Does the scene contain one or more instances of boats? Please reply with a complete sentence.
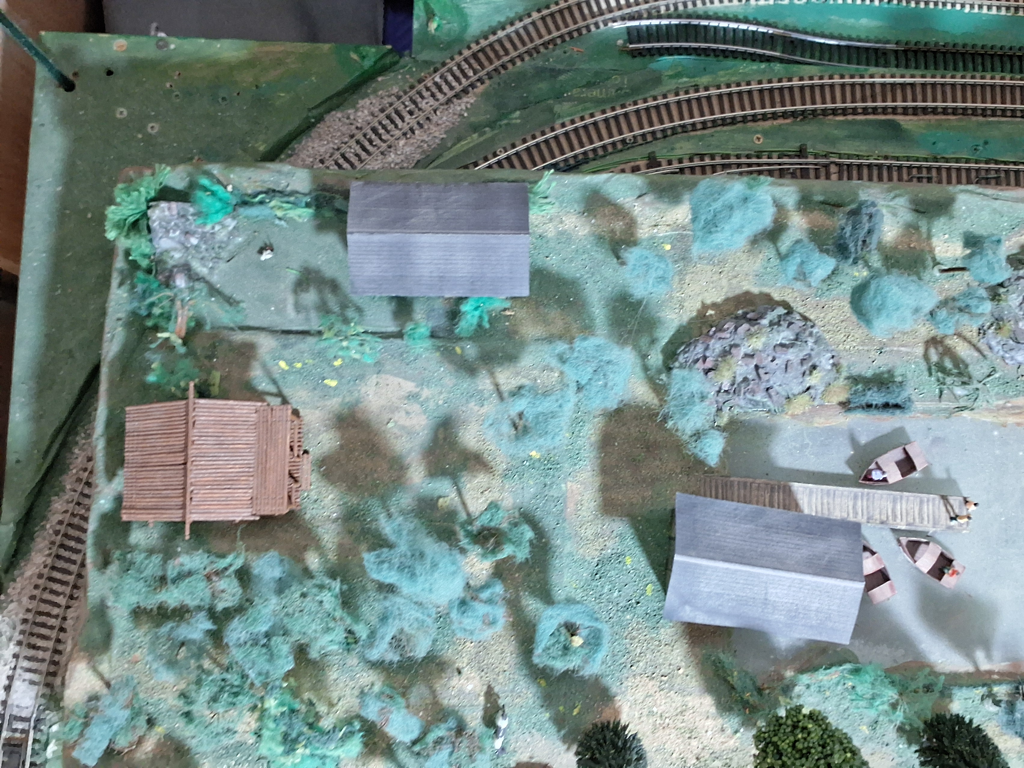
Yes, looking at the shot, I can spot a boat.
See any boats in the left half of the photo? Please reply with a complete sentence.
No, looking in the left half of the photo, there is no boat.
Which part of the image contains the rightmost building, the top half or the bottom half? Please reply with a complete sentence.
The bottom half of the photo is where the rightmost building is.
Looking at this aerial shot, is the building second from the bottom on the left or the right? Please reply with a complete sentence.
The building second from the bottom sits on the left side.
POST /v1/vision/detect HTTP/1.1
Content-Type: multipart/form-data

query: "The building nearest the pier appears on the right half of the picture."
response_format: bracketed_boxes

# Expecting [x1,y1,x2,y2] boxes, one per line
[664,493,865,645]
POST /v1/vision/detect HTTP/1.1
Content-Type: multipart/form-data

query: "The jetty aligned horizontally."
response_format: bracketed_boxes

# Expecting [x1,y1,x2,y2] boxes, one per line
[694,474,970,532]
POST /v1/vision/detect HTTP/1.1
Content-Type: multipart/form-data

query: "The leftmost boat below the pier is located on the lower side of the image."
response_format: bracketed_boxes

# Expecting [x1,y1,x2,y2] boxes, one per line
[861,541,895,603]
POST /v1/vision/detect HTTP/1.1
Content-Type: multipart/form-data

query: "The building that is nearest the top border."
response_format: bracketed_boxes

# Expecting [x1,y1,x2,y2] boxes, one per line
[347,182,530,297]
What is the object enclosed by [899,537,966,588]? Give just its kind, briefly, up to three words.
boat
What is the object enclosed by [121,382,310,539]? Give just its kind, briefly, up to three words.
building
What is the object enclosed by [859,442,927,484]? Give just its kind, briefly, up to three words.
boat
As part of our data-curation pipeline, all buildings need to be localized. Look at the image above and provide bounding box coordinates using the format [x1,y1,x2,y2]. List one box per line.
[121,382,310,539]
[347,182,530,297]
[664,493,865,645]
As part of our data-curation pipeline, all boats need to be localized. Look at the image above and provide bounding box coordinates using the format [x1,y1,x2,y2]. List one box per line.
[859,442,927,484]
[861,541,895,603]
[899,537,966,588]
